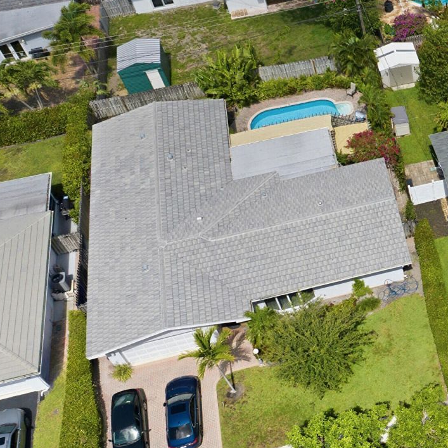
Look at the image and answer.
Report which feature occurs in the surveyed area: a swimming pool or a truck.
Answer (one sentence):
I can see a swimming pool in this picture.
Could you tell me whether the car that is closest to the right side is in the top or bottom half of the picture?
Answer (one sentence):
The car that is closest to the right side is in the bottom half of the image.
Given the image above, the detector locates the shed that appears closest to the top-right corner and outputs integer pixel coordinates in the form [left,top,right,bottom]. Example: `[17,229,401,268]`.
[378,40,417,88]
